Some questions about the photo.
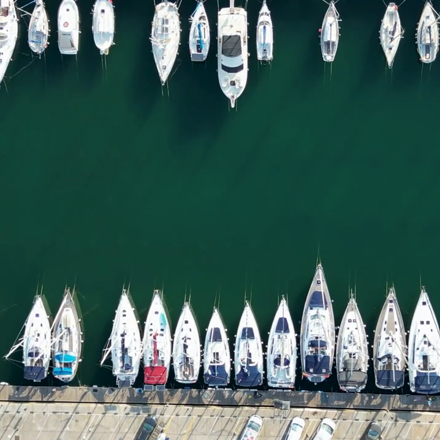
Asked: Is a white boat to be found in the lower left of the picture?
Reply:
Yes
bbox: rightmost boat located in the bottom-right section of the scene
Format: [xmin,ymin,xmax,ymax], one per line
[406,277,440,401]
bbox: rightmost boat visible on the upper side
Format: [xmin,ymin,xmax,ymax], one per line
[414,0,440,80]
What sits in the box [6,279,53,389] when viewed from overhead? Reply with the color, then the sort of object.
white boat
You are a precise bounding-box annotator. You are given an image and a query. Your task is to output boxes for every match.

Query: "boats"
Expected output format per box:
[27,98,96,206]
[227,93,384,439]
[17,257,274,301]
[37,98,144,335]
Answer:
[318,0,341,69]
[378,0,403,79]
[187,0,211,77]
[264,290,296,394]
[0,0,21,80]
[6,279,53,389]
[372,276,411,394]
[300,258,335,389]
[202,299,231,392]
[39,276,85,387]
[105,281,141,393]
[92,0,118,65]
[414,0,440,80]
[170,293,201,391]
[139,275,171,392]
[23,0,52,62]
[215,0,249,107]
[149,0,182,90]
[406,277,440,401]
[56,0,82,55]
[233,281,263,394]
[255,0,275,62]
[334,278,369,400]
